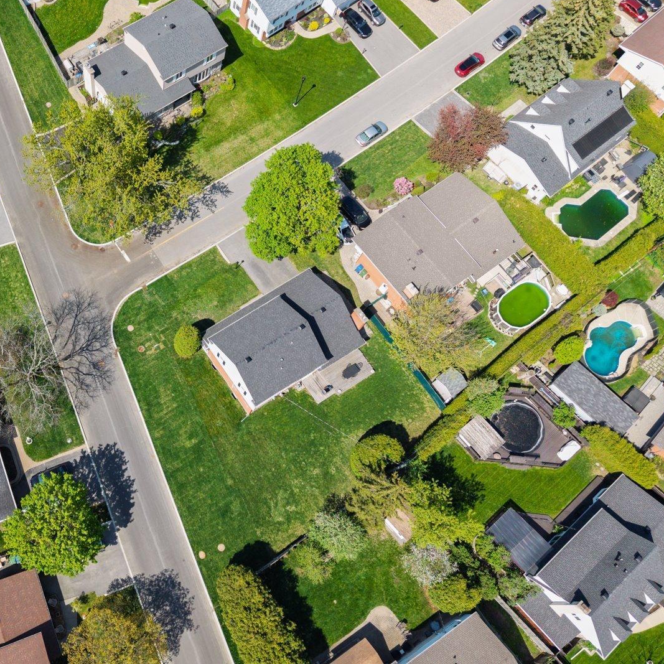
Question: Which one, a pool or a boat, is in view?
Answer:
pool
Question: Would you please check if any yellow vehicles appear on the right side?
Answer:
No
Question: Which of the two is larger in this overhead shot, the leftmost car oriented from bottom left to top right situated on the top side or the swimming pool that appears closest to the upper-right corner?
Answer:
the swimming pool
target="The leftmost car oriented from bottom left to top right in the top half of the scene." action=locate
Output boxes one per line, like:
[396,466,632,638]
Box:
[355,121,389,147]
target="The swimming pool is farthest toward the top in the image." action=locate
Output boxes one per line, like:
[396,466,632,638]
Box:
[554,188,632,240]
